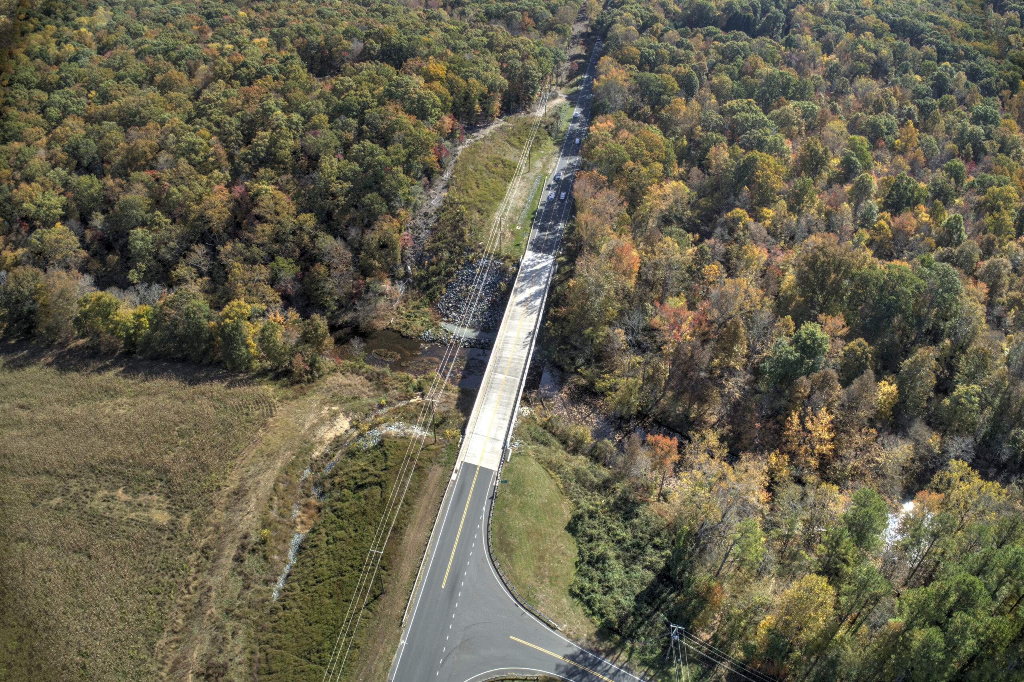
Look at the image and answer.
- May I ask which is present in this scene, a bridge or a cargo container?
bridge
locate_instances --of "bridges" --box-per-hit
[449,246,560,487]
